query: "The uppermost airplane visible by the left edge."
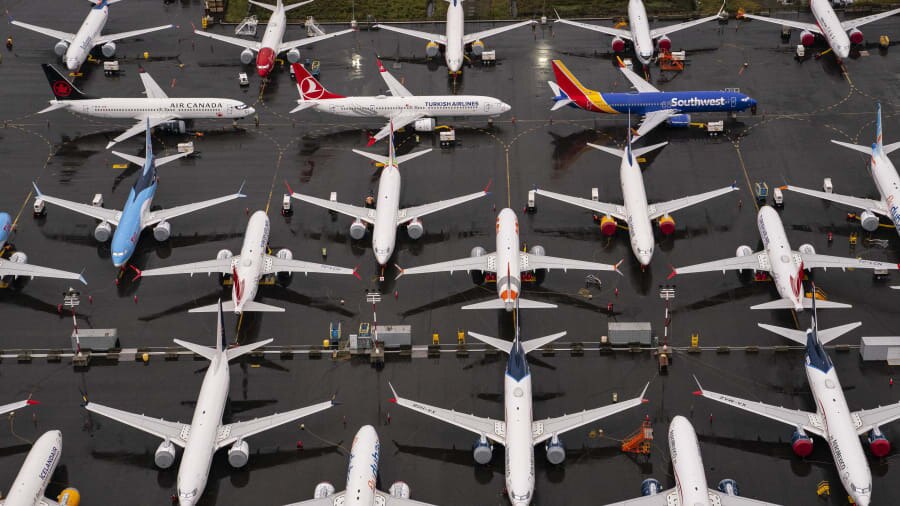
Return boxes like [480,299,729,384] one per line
[9,0,177,74]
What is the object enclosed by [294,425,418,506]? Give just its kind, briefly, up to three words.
airplane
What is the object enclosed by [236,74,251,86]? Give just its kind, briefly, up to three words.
vehicle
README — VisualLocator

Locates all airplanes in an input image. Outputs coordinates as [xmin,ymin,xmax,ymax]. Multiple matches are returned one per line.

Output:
[9,0,177,74]
[547,53,752,146]
[393,206,624,313]
[370,0,540,75]
[284,112,494,267]
[388,291,650,506]
[131,209,363,315]
[780,103,900,242]
[670,206,900,313]
[294,425,418,506]
[190,0,360,82]
[584,416,850,506]
[0,430,81,506]
[80,296,342,506]
[553,0,722,69]
[694,283,900,502]
[737,0,900,63]
[527,107,739,262]
[35,115,246,270]
[0,216,90,286]
[39,58,249,150]
[288,55,509,148]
